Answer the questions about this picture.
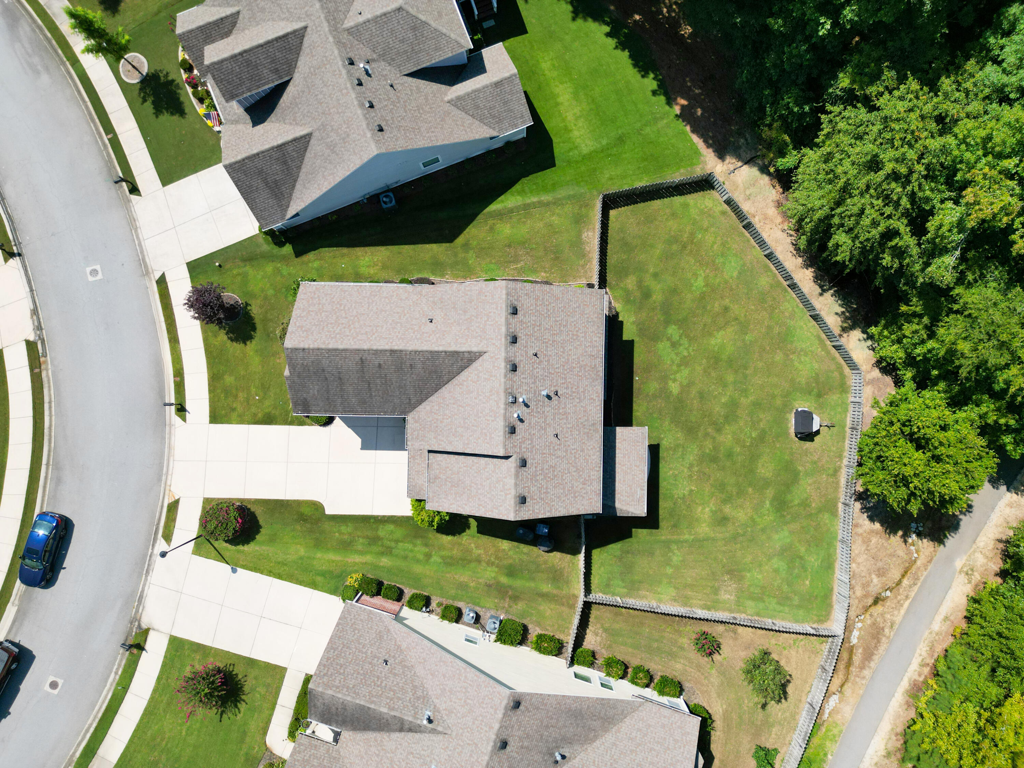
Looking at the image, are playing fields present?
No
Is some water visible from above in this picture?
No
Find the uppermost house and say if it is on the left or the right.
left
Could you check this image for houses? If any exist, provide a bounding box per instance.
[285,588,702,768]
[283,280,648,520]
[176,0,533,235]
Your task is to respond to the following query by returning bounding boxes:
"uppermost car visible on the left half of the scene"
[18,510,69,586]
